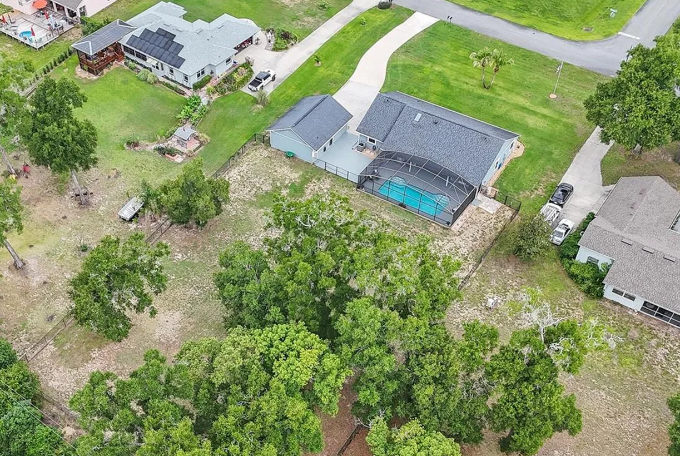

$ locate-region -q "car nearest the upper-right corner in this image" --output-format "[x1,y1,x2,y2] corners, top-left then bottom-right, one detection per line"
[551,179,573,209]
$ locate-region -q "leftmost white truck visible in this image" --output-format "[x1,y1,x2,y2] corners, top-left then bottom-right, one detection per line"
[245,71,280,94]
